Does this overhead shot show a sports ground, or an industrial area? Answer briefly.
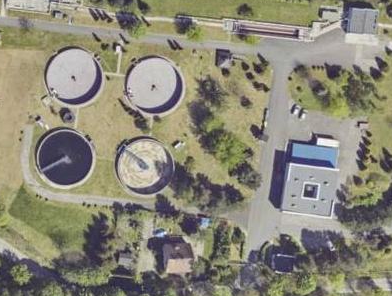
industrial area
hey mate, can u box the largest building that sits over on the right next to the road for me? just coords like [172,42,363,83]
[283,137,340,220]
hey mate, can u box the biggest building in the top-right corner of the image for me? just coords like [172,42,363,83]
[349,8,379,35]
